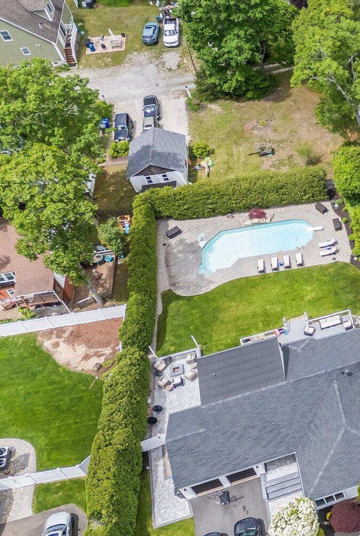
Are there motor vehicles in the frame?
Yes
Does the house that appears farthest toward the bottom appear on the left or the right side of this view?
right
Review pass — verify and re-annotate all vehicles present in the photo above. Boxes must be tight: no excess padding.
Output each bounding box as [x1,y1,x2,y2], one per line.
[161,19,179,45]
[140,92,161,120]
[140,114,159,137]
[234,516,262,536]
[40,511,75,536]
[142,26,159,44]
[110,111,132,142]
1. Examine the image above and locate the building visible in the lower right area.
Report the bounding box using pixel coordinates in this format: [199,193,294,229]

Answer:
[166,324,360,508]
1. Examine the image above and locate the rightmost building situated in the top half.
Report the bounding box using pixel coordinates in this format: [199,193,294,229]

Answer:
[127,128,191,186]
